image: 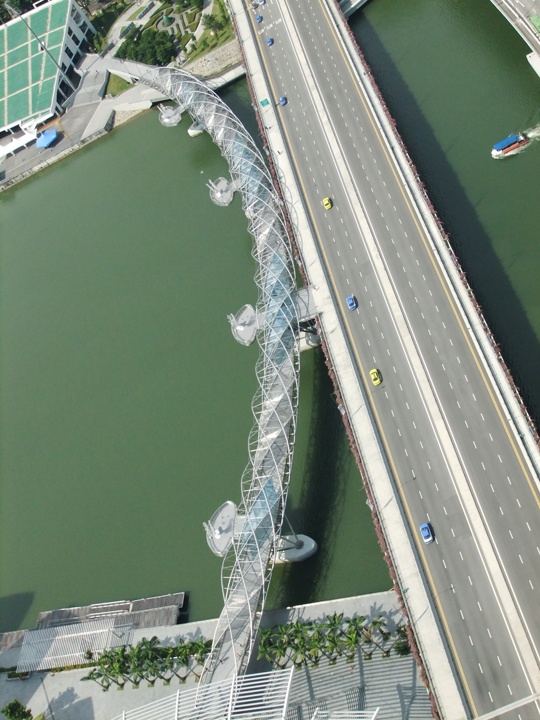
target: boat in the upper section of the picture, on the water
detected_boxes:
[491,133,530,155]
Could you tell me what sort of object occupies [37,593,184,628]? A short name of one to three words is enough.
pier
